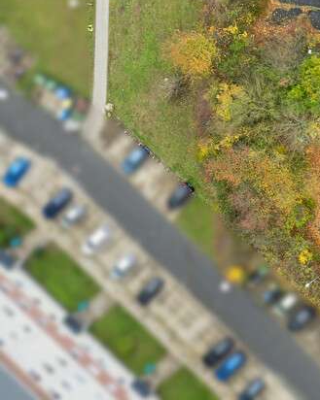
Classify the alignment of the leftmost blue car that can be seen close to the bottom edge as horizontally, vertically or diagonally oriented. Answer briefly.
diagonally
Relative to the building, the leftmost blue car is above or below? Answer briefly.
above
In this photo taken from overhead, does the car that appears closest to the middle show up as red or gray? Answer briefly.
gray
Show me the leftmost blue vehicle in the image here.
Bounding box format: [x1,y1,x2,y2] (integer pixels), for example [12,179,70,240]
[1,156,34,188]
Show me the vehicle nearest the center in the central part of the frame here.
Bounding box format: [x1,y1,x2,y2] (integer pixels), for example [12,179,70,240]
[163,178,199,213]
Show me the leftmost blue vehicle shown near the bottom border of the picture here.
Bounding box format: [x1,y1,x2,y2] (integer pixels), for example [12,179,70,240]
[214,351,247,382]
